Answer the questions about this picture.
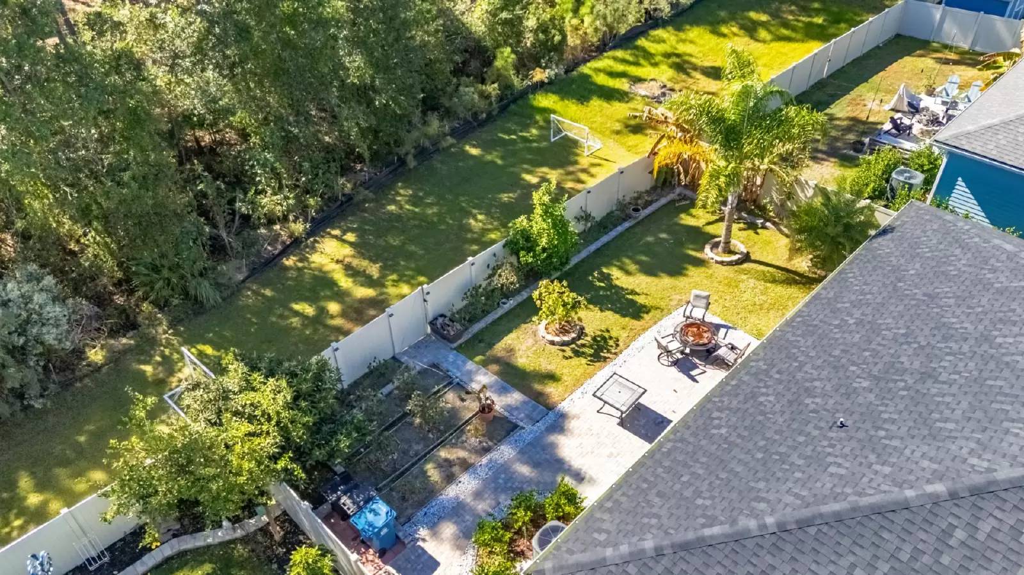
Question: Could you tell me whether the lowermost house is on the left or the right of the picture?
right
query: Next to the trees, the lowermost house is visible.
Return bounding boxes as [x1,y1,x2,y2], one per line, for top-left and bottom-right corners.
[517,200,1024,575]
